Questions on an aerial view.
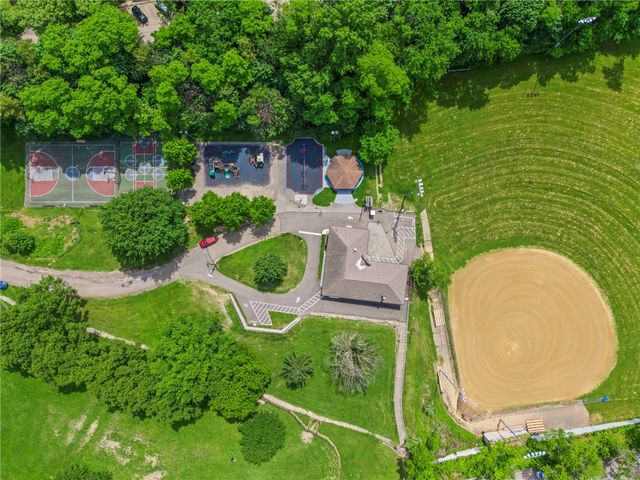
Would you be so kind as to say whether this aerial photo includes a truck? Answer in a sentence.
No, there's no truck here.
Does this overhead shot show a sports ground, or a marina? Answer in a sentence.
It's a sports ground.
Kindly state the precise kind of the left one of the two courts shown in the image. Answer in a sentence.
The left one of the two courts can be classified as a basketball court.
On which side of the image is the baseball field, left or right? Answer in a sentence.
The baseball field sits on the right side.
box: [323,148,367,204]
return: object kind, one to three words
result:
gazebo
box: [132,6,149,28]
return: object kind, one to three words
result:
car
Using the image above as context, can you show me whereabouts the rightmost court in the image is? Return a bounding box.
[120,138,171,195]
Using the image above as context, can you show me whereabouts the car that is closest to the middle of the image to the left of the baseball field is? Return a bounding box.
[198,236,218,248]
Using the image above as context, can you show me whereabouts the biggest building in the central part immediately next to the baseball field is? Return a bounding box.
[321,225,408,305]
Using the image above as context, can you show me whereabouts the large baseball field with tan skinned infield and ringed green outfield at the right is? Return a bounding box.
[386,46,640,424]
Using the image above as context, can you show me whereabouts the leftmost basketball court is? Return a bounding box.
[26,142,118,208]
